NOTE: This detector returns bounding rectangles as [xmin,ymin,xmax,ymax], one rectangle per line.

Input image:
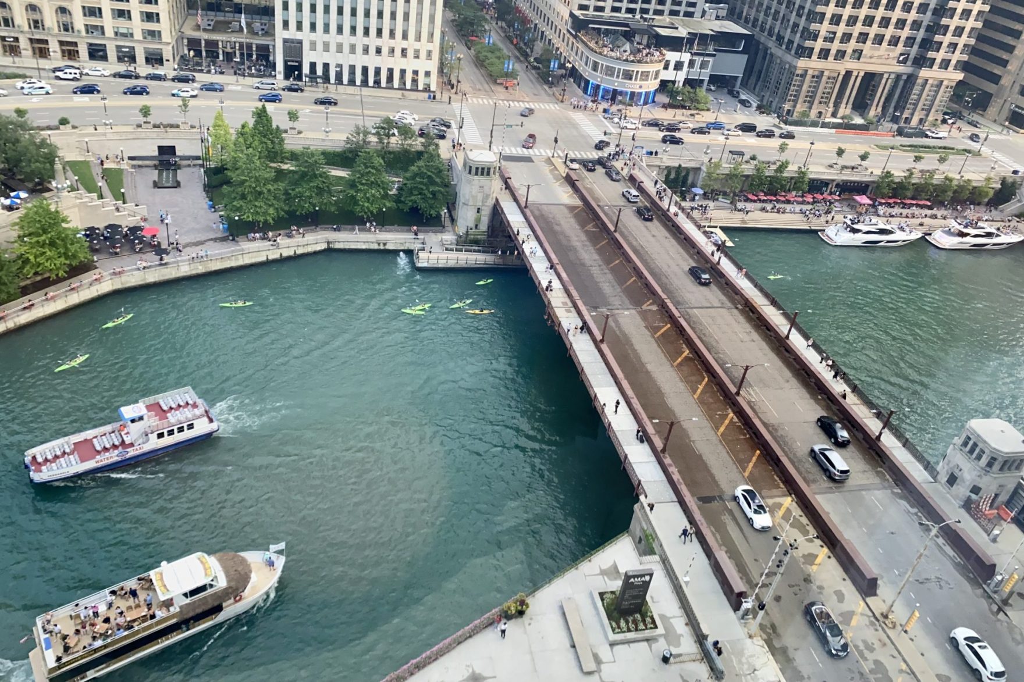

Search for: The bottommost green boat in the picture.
[54,353,89,372]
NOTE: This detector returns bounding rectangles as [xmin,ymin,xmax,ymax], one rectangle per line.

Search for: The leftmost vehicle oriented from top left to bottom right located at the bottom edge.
[804,600,856,660]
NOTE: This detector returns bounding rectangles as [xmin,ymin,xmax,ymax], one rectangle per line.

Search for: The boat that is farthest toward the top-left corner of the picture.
[102,313,133,328]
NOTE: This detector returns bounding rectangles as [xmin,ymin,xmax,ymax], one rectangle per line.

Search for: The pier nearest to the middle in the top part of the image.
[415,242,521,265]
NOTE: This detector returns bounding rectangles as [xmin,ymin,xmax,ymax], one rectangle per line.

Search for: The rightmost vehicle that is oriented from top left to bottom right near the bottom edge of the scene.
[950,628,1016,682]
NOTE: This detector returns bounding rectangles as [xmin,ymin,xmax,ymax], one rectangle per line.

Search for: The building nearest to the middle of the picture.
[453,143,507,248]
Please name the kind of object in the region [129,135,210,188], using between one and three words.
fountain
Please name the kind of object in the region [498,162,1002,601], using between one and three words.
bridge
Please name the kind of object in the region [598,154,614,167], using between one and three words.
vehicle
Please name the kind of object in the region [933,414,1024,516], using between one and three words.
house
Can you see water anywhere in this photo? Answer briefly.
Yes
